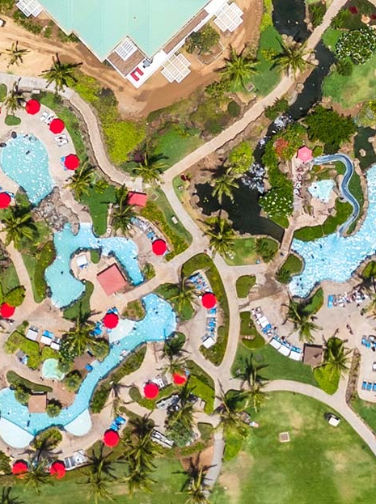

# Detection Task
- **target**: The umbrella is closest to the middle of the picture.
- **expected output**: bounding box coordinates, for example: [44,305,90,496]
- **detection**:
[152,240,168,255]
